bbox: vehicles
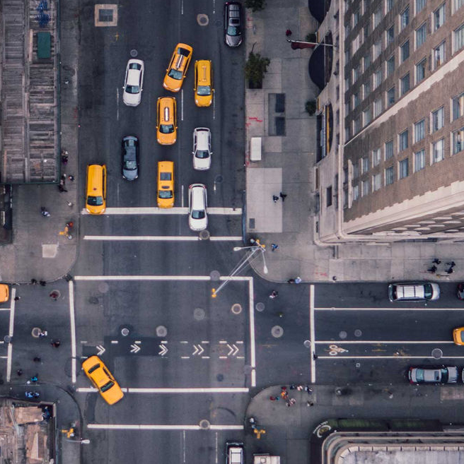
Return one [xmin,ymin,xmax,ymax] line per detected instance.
[83,354,123,407]
[122,59,144,107]
[0,283,10,304]
[84,165,107,215]
[155,161,176,209]
[222,1,244,49]
[186,183,209,232]
[408,365,457,388]
[452,326,464,346]
[155,96,177,146]
[192,60,214,108]
[388,280,440,304]
[191,127,212,171]
[224,442,244,464]
[119,135,140,181]
[164,41,192,96]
